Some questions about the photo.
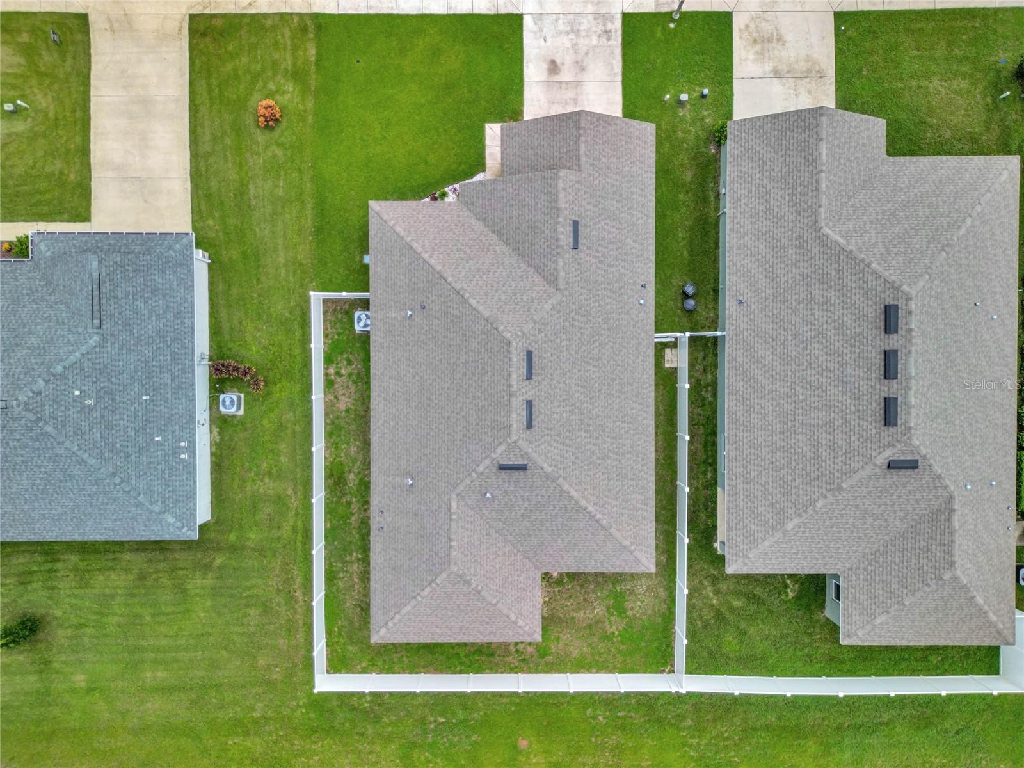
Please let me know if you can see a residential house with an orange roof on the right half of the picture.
No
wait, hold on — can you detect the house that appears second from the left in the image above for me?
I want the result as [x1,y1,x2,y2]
[369,110,656,643]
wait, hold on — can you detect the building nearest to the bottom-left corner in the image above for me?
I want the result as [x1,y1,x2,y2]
[0,229,229,541]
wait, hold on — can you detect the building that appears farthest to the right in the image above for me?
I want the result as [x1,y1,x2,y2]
[712,105,1021,645]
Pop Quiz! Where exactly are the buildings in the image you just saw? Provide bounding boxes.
[0,229,229,541]
[712,105,1021,645]
[369,110,656,643]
